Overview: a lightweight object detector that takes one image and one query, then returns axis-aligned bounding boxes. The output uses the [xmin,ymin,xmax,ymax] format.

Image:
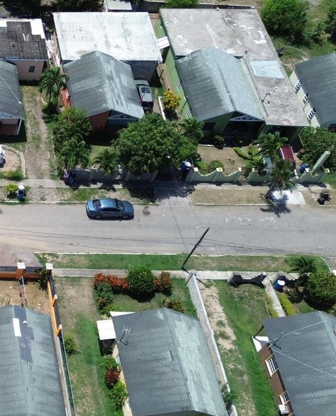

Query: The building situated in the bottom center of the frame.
[90,308,227,416]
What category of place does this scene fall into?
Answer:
residential area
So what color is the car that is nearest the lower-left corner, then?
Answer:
blue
